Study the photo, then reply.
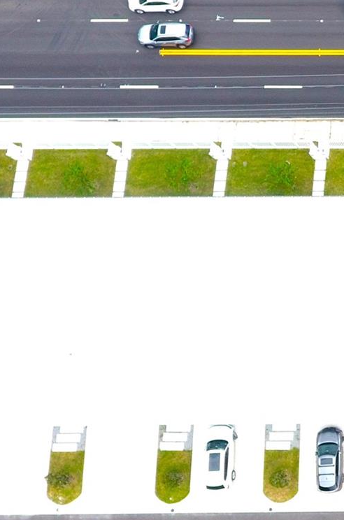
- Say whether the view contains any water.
No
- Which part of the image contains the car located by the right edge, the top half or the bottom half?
bottom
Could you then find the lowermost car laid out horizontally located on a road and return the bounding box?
[135,19,195,48]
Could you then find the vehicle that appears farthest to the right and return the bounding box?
[312,429,344,494]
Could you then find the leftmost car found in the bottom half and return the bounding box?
[202,427,236,493]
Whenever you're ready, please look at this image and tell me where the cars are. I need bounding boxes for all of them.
[202,427,236,493]
[312,429,344,494]
[135,19,195,48]
[126,0,185,15]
